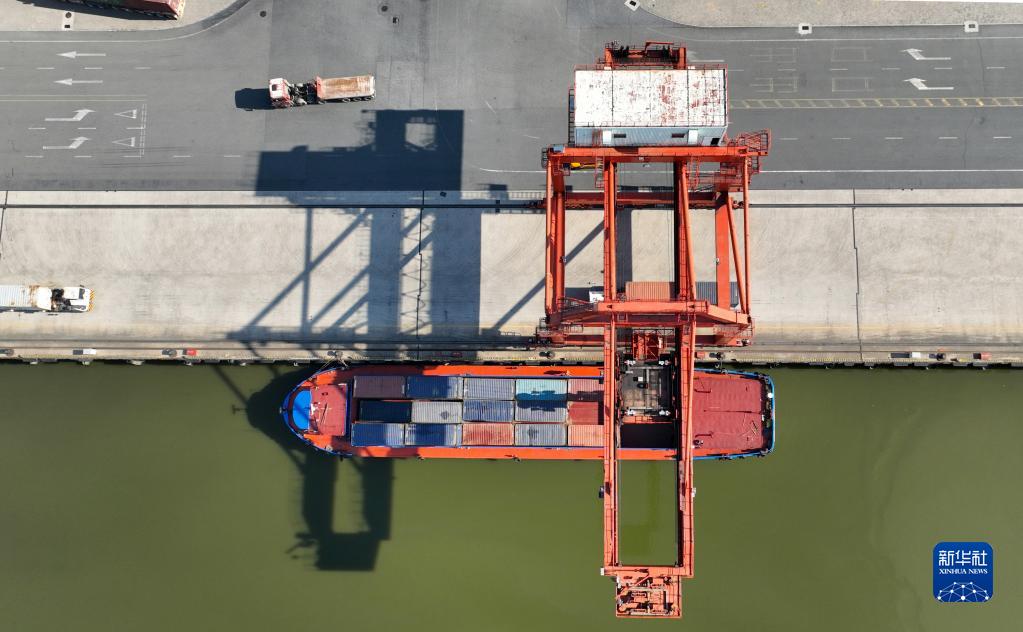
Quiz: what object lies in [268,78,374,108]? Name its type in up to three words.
truck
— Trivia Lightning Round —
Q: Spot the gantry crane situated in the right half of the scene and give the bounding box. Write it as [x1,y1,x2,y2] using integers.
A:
[529,40,770,617]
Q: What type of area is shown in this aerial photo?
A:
port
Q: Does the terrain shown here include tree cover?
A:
No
